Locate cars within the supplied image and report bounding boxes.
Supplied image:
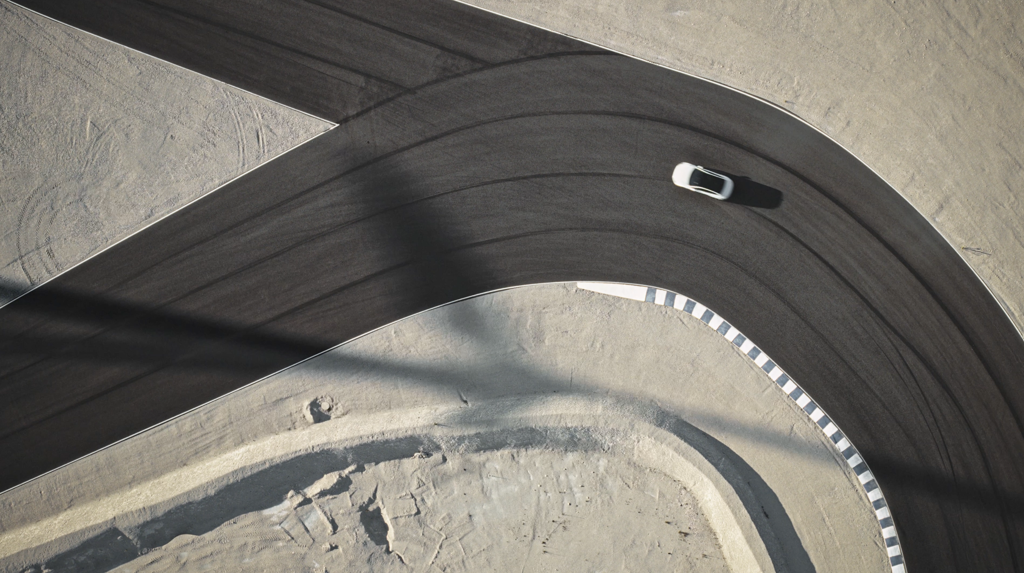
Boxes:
[671,163,734,201]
